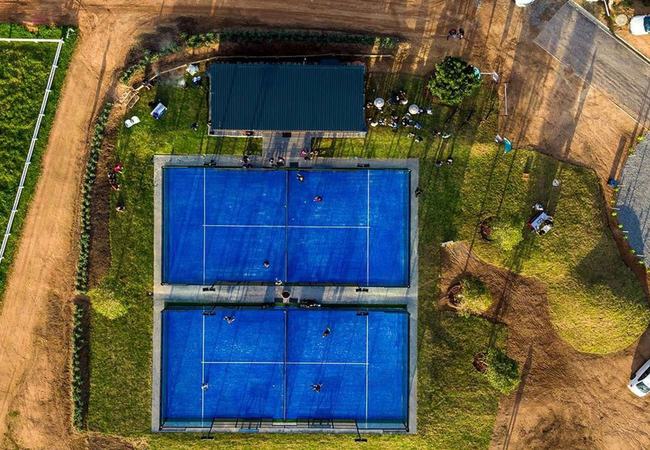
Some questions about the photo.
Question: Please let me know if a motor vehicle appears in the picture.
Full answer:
Yes, there is a motor vehicle in the image.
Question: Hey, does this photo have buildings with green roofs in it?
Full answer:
No, I can't see a single building with a green roof in this photo.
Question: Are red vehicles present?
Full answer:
No, there isn't any red vehicle down there.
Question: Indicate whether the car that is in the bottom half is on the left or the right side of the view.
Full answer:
You can find the car that is in the bottom half on the right side of the picture.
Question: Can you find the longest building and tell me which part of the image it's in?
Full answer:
The longest building is in the top part of the image.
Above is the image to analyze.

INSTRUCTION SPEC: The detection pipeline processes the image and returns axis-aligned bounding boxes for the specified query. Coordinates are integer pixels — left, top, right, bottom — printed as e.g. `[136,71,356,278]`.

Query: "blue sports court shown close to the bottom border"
[159,303,410,440]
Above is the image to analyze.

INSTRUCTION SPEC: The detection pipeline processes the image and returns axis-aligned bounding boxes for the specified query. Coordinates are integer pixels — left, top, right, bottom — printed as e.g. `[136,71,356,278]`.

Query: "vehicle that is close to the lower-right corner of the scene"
[627,348,650,395]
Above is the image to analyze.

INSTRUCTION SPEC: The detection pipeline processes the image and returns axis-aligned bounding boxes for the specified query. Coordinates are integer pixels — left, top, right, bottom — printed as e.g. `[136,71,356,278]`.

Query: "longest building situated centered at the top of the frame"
[208,60,367,138]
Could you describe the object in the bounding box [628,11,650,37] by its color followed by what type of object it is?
white car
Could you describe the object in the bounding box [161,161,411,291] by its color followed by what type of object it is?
blue sports court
